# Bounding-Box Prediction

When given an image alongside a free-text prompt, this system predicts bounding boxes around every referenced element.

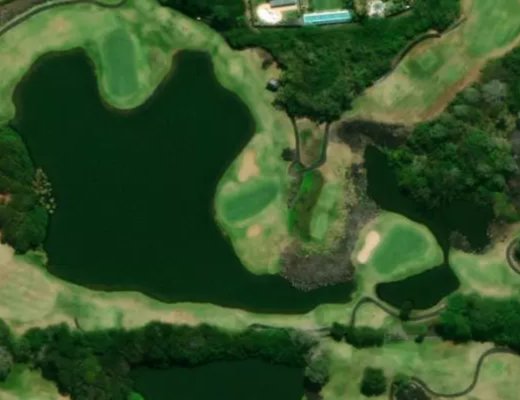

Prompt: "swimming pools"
[304,11,352,23]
